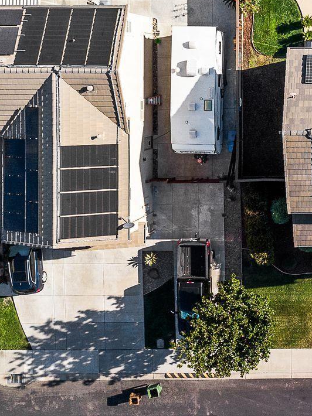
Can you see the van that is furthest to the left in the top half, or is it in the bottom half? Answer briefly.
bottom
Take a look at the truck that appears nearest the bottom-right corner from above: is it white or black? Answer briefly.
black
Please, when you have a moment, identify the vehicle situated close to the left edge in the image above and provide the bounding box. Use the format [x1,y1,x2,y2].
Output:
[6,243,50,299]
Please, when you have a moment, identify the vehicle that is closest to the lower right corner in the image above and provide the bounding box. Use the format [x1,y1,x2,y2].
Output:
[176,239,215,333]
